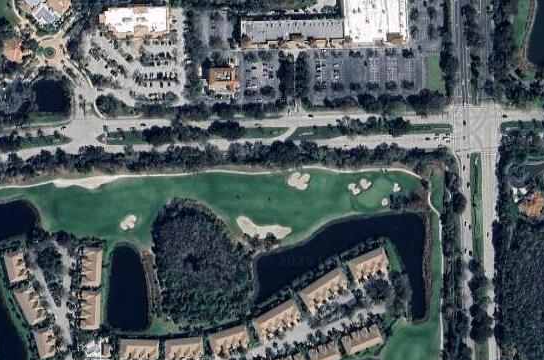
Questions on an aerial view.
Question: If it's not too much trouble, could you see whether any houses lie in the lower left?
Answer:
Yes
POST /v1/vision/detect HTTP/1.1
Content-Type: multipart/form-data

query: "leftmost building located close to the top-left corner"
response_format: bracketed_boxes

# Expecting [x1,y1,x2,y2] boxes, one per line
[1,36,27,61]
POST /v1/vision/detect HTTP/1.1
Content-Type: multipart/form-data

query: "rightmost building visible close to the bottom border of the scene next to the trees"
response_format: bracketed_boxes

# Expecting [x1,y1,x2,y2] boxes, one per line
[341,324,383,354]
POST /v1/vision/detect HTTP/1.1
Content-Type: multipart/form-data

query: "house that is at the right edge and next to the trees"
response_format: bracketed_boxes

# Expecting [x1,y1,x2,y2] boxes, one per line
[518,189,544,218]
